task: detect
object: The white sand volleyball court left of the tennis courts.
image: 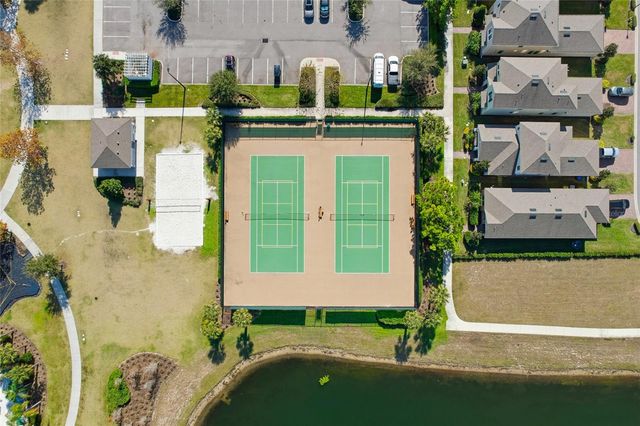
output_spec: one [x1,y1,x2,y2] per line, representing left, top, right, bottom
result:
[156,152,204,247]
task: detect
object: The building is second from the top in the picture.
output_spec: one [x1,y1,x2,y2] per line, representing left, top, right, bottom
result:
[473,57,602,114]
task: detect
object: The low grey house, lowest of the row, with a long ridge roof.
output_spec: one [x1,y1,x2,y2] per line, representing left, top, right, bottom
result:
[479,189,609,238]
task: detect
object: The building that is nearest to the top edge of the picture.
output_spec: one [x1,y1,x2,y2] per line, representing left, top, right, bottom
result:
[473,0,604,57]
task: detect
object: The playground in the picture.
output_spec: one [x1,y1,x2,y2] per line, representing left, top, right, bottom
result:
[0,229,41,317]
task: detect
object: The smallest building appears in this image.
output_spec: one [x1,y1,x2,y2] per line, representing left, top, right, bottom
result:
[91,119,137,168]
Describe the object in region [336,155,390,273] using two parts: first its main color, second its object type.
green tennis court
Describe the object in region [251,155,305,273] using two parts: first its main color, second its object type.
green tennis court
